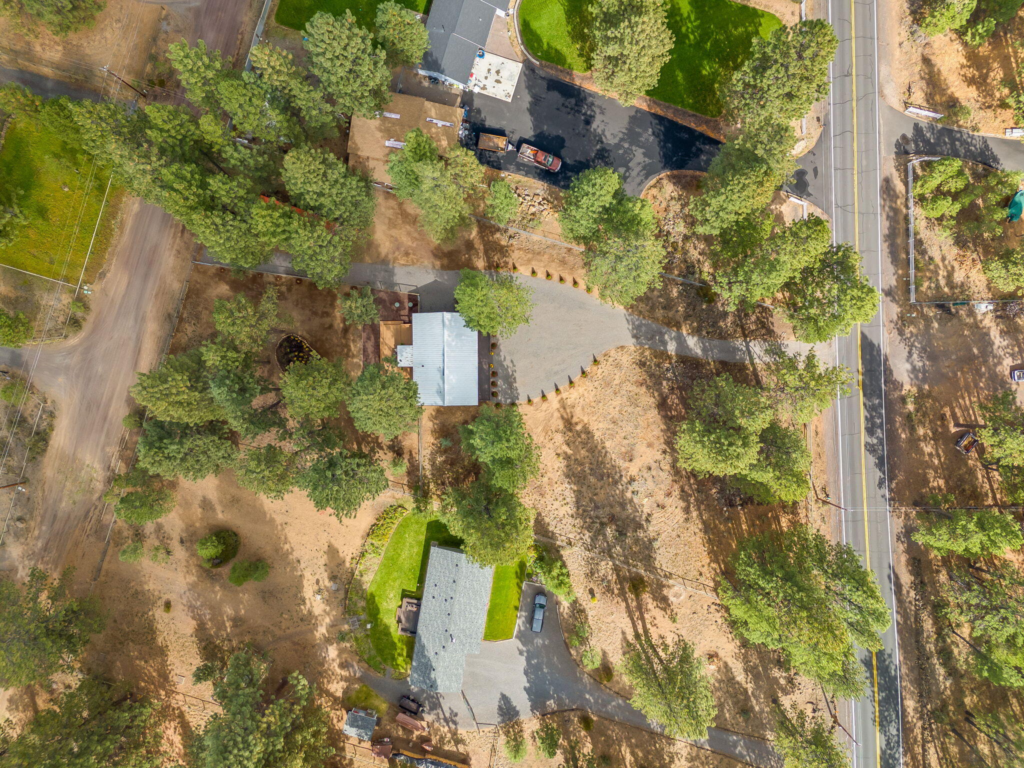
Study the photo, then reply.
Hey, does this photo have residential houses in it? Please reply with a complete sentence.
Yes, there's a residential house down there.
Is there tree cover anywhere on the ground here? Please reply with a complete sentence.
Yes, the picture does contain tree cover.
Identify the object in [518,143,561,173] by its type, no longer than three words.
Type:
truck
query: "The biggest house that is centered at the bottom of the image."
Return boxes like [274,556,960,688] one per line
[409,537,495,692]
